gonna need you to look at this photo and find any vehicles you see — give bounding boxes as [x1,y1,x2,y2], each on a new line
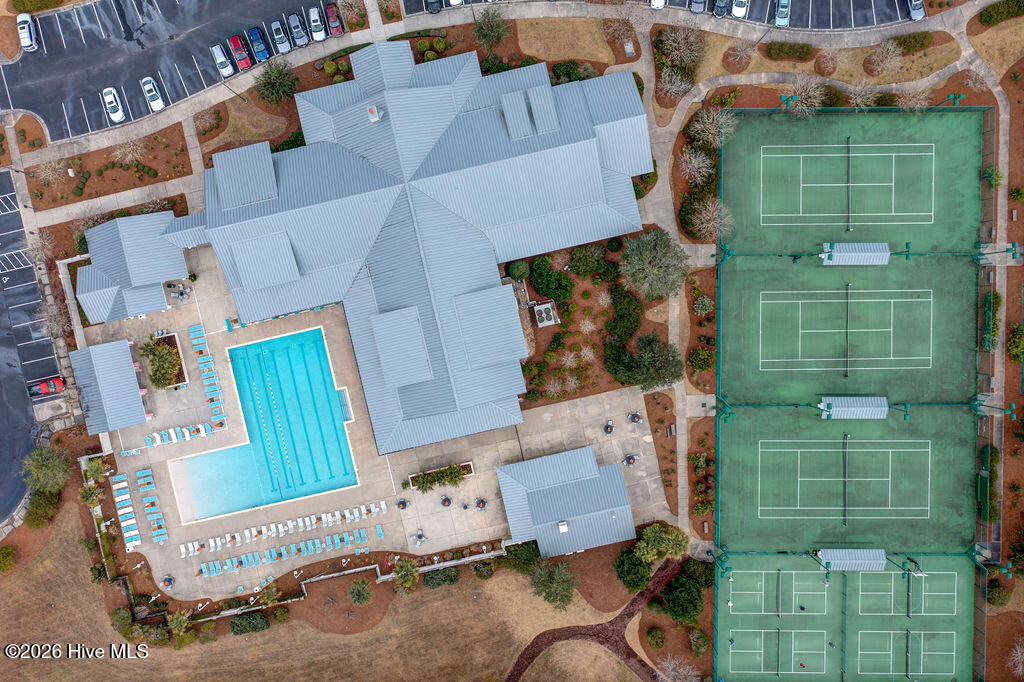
[649,0,665,11]
[689,0,706,15]
[288,12,311,50]
[773,0,790,29]
[309,6,328,44]
[104,88,127,125]
[210,42,236,81]
[26,378,67,398]
[711,0,728,20]
[327,2,345,39]
[17,15,41,52]
[229,34,254,73]
[905,0,925,23]
[143,77,166,114]
[270,19,294,57]
[730,0,748,20]
[248,26,271,64]
[427,0,443,15]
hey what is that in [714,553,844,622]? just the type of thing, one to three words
sports court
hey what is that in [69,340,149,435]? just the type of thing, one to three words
shed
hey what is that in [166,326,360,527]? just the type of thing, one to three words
swimming pool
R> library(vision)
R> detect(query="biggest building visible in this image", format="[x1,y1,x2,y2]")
[204,41,654,456]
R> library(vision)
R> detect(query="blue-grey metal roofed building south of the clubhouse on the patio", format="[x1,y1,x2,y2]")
[496,446,636,558]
